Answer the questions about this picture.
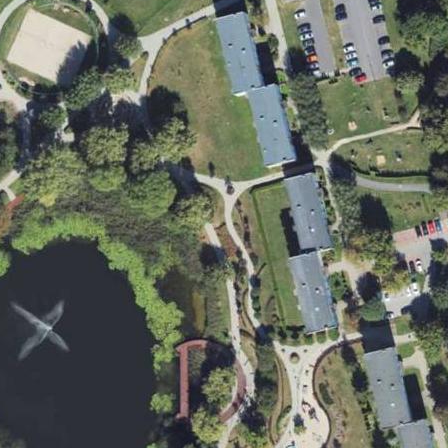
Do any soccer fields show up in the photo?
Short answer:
No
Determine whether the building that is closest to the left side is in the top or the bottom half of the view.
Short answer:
top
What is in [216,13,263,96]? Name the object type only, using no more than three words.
building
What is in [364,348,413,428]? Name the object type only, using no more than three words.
building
